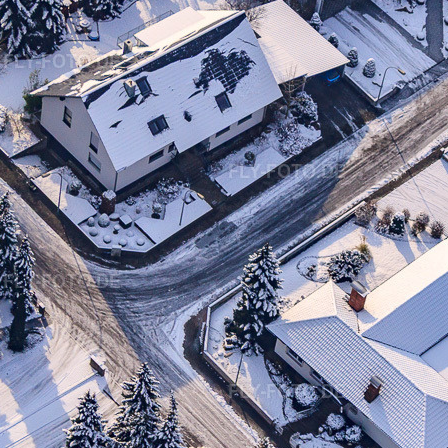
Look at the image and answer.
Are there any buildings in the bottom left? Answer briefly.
No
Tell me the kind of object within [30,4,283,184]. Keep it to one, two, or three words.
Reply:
house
